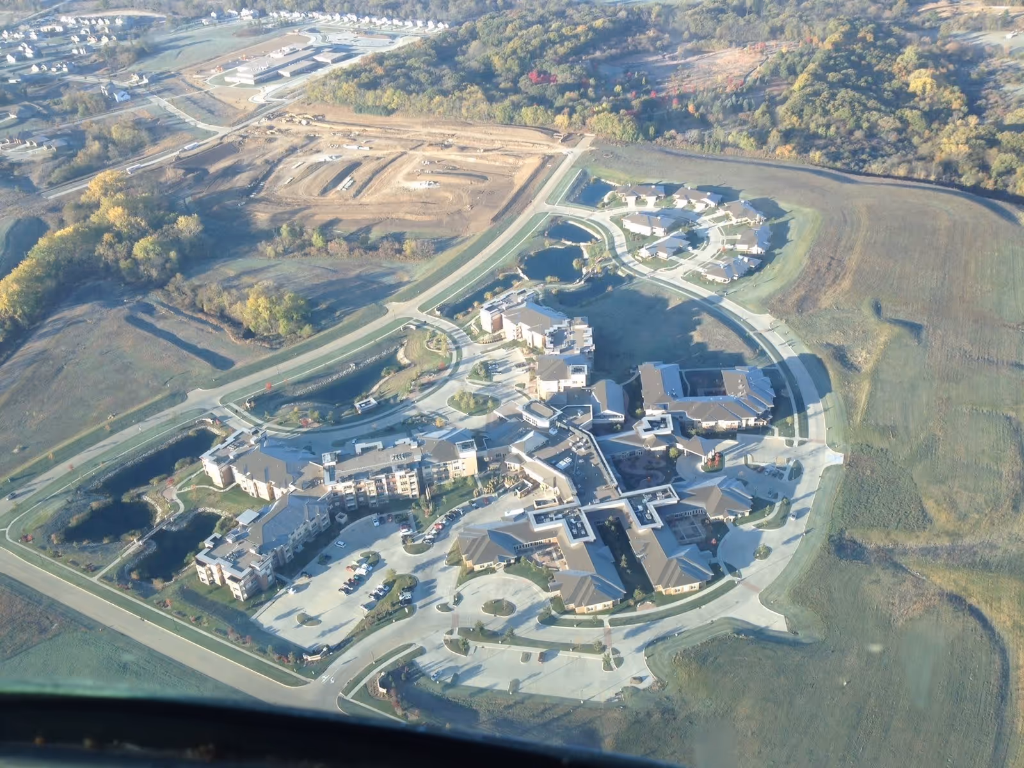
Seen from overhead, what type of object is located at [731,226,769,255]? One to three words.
house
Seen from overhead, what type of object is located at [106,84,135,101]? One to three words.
barn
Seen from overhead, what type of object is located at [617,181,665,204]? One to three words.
house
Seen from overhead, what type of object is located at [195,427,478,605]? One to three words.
building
